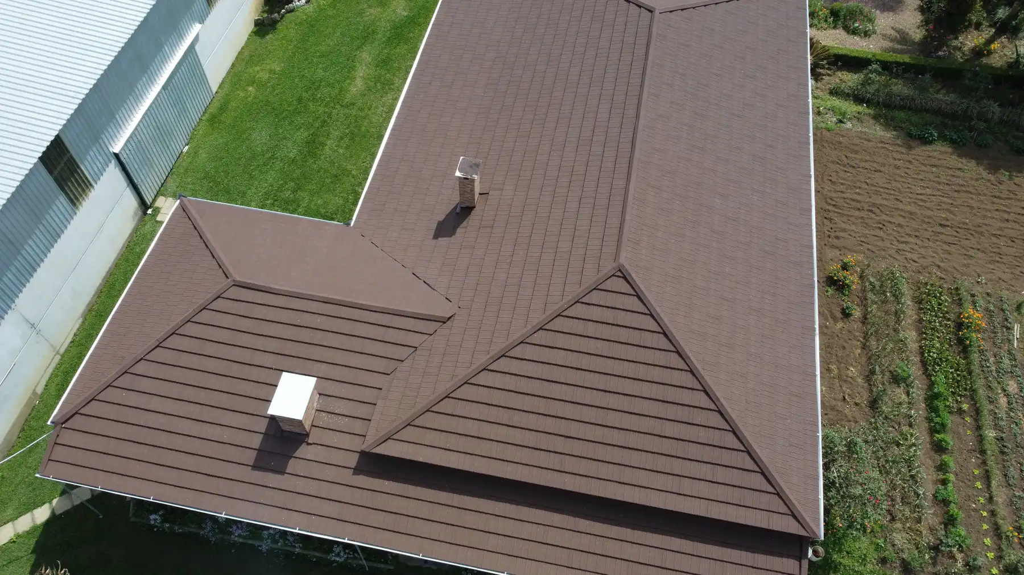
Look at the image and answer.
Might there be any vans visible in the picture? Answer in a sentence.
No, the picture doesn't show any van.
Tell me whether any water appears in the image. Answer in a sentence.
No, there is no water in the image.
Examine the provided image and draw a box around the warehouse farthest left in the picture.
[0,0,271,452]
